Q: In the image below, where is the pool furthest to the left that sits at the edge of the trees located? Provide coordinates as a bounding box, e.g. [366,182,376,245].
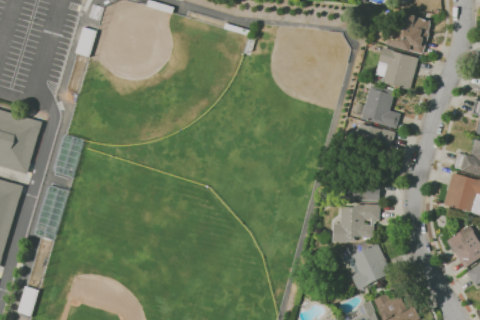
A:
[299,304,326,320]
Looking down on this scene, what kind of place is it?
sports ground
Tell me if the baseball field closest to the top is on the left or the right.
left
